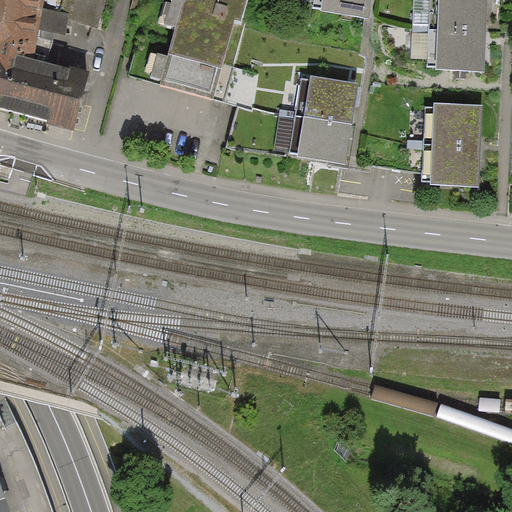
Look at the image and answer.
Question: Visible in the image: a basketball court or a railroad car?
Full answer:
This aerial view contains a railroad car.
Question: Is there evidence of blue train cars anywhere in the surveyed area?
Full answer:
No, I can see no blue train car in this picture.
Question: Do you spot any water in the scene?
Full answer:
No, the picture contains no water.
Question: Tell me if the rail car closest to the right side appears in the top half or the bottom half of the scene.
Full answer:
You can find the rail car closest to the right side in the bottom half.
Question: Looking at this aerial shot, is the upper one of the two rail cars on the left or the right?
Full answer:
It is on the right.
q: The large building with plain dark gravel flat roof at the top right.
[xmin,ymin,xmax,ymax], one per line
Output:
[437,0,489,72]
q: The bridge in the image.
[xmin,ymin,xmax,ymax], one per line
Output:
[0,380,110,425]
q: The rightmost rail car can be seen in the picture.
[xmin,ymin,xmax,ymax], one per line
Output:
[435,404,512,444]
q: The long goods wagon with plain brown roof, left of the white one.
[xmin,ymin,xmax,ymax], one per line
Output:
[369,386,440,418]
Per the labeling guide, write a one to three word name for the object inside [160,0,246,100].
building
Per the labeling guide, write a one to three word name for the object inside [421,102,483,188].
house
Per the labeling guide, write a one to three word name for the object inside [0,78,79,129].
house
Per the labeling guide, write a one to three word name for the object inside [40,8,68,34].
shed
